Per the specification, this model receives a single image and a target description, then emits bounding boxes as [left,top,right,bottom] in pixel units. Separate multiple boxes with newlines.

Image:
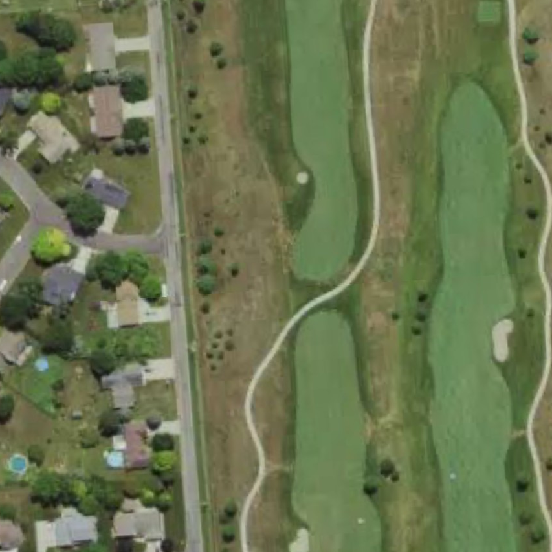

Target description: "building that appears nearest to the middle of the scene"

[116,281,139,327]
